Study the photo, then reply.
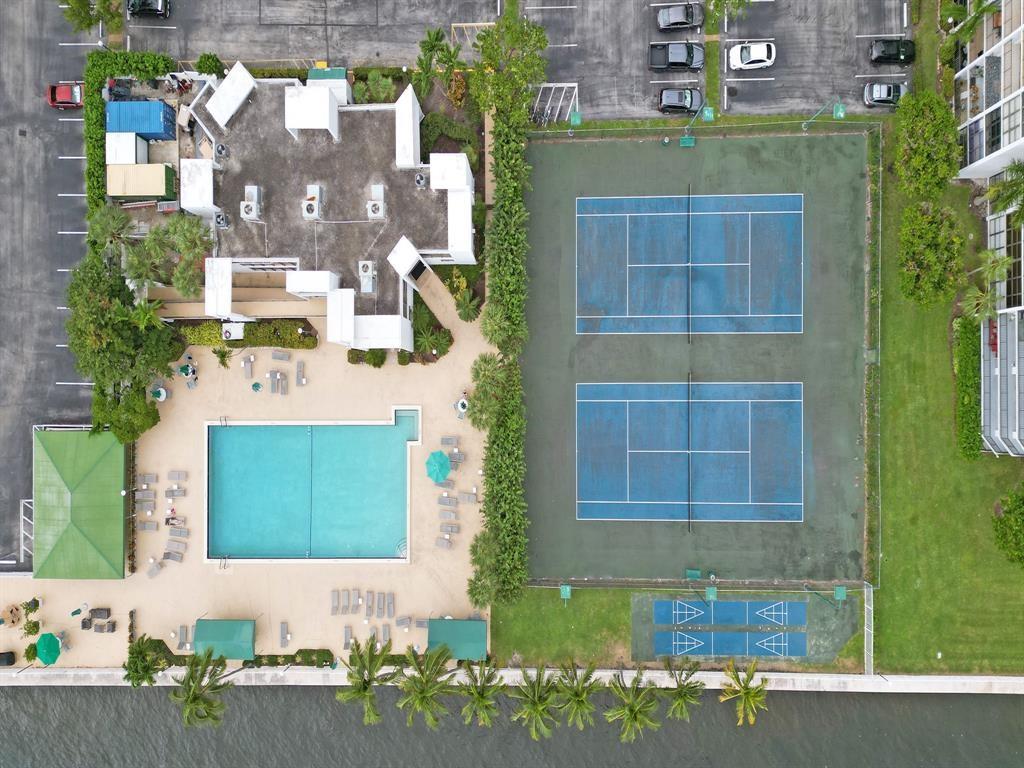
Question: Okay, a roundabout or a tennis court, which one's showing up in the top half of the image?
tennis court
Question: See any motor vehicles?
Yes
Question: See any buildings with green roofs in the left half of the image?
Yes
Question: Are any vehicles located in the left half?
Yes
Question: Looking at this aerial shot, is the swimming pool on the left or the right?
left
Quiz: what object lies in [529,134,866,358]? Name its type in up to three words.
tennis court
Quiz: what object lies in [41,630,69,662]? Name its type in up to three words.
umbrella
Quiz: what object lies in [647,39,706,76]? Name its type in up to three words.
vehicle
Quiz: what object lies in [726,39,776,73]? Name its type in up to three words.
car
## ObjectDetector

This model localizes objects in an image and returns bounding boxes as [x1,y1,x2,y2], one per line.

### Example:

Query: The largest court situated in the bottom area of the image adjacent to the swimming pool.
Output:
[529,358,866,581]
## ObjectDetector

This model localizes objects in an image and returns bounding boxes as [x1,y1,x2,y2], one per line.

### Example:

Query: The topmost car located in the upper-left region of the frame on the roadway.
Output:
[125,0,175,20]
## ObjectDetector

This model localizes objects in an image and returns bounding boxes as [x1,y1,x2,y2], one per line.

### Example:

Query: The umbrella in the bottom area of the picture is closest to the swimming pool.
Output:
[427,449,451,482]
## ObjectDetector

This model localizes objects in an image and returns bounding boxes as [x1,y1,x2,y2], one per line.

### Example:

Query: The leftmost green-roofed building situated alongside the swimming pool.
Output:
[33,422,137,579]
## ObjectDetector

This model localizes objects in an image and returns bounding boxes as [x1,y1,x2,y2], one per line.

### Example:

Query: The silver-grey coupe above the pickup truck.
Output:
[655,1,705,34]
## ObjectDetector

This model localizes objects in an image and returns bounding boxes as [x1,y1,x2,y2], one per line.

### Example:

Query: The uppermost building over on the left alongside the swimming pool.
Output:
[181,62,475,351]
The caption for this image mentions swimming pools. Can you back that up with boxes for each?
[206,406,421,563]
